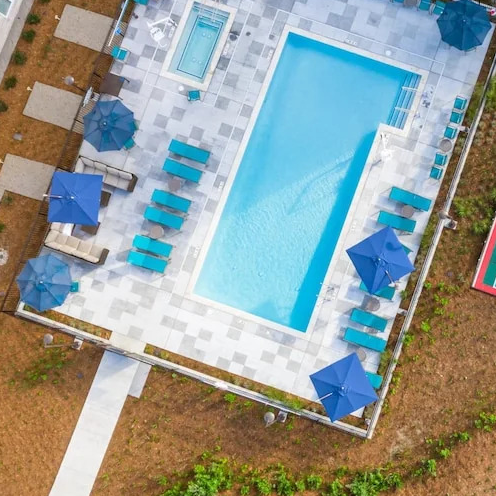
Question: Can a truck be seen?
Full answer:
No, the frame has no truck in it.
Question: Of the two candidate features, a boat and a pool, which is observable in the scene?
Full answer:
This aerial view contains a pool.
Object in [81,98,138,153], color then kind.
blue umbrella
